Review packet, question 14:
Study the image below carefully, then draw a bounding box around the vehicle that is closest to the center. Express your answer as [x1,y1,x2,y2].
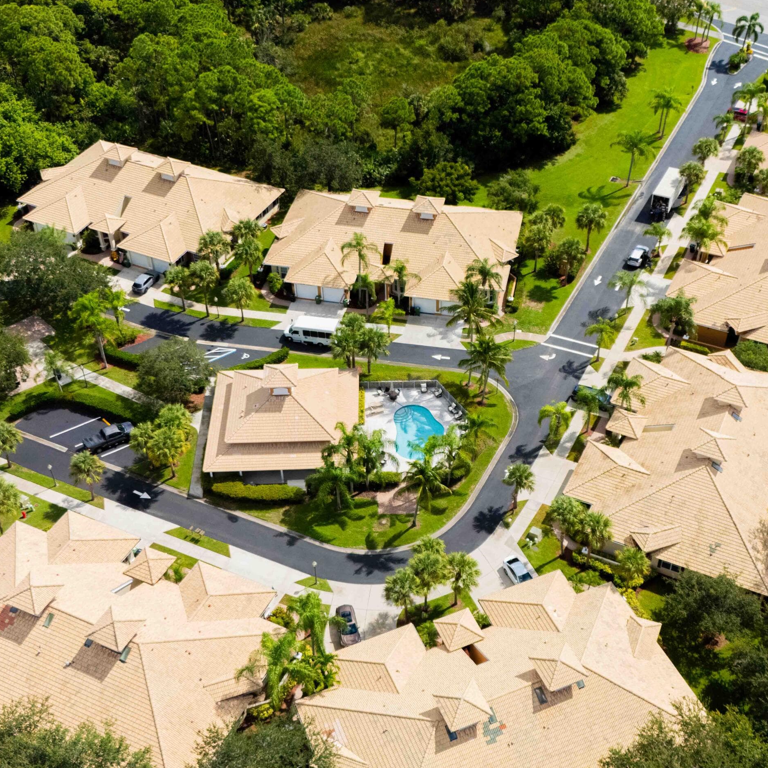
[284,315,339,344]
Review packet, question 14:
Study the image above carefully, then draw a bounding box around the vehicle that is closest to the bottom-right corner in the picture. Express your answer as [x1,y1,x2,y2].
[501,552,534,582]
